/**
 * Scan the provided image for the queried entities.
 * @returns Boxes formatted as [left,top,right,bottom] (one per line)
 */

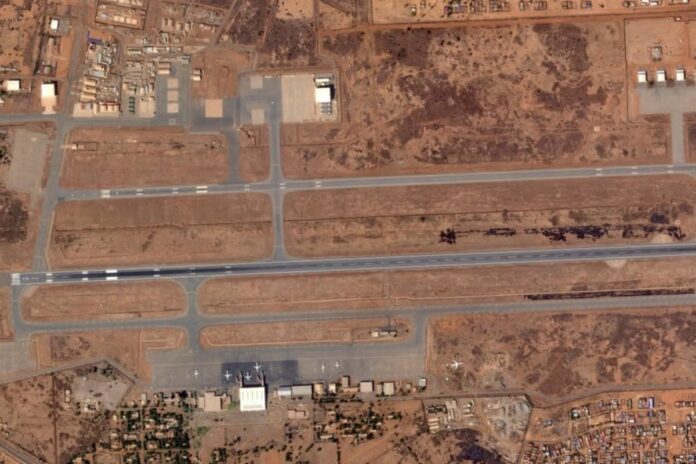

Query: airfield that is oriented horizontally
[0,58,696,391]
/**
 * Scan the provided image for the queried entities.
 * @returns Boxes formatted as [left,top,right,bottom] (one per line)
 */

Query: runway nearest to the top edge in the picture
[57,162,696,200]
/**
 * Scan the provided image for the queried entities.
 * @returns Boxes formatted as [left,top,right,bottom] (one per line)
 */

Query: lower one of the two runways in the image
[12,244,696,286]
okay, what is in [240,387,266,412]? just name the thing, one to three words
building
